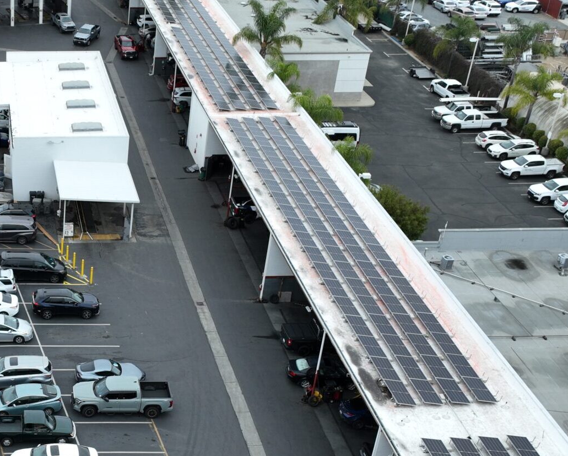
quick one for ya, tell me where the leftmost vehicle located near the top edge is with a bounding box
[50,8,75,29]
